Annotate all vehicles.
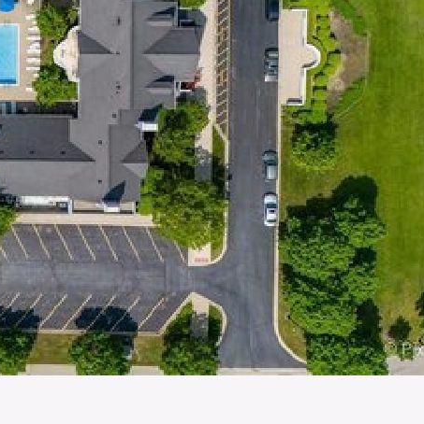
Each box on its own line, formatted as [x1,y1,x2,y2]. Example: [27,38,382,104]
[262,48,278,82]
[263,0,280,21]
[261,149,278,180]
[262,193,278,227]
